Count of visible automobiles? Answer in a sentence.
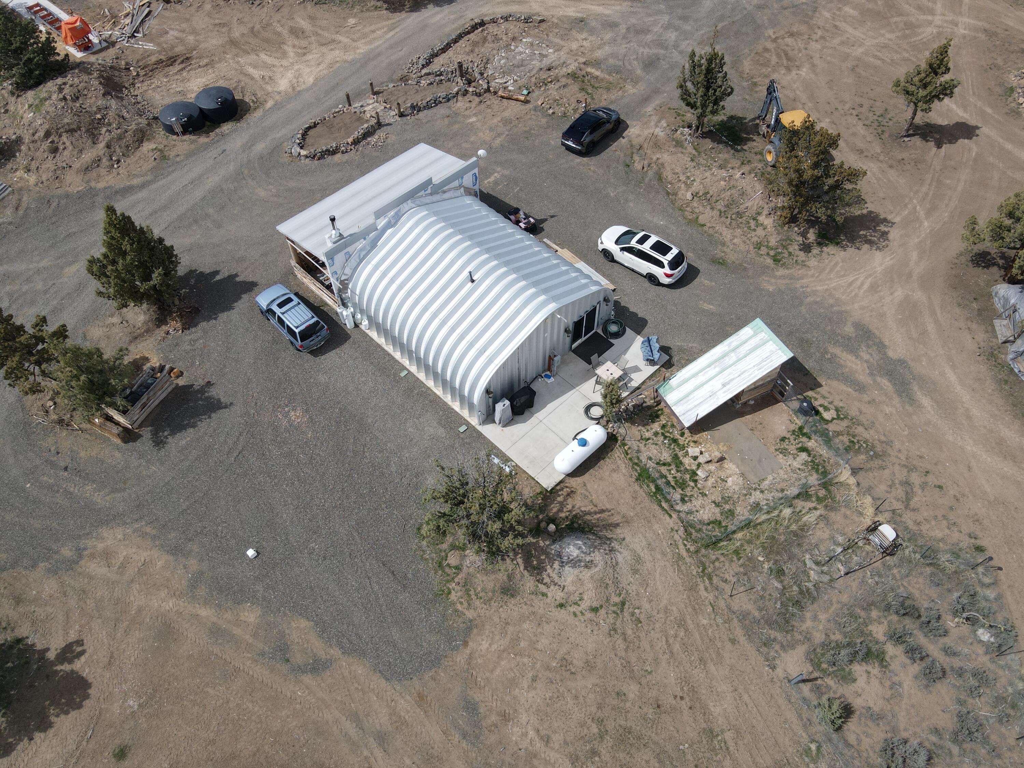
My tally gives 3 automobiles in this view.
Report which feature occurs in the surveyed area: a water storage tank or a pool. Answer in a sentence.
There is a water storage tank in the scene.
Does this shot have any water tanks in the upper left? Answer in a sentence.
Yes, a water tank can be seen in the upper left.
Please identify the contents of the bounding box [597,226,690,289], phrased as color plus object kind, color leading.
white car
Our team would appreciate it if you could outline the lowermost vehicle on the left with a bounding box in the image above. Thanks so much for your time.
[257,284,337,357]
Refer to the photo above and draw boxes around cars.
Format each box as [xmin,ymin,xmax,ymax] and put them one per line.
[257,284,337,357]
[597,226,690,289]
[560,107,621,155]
